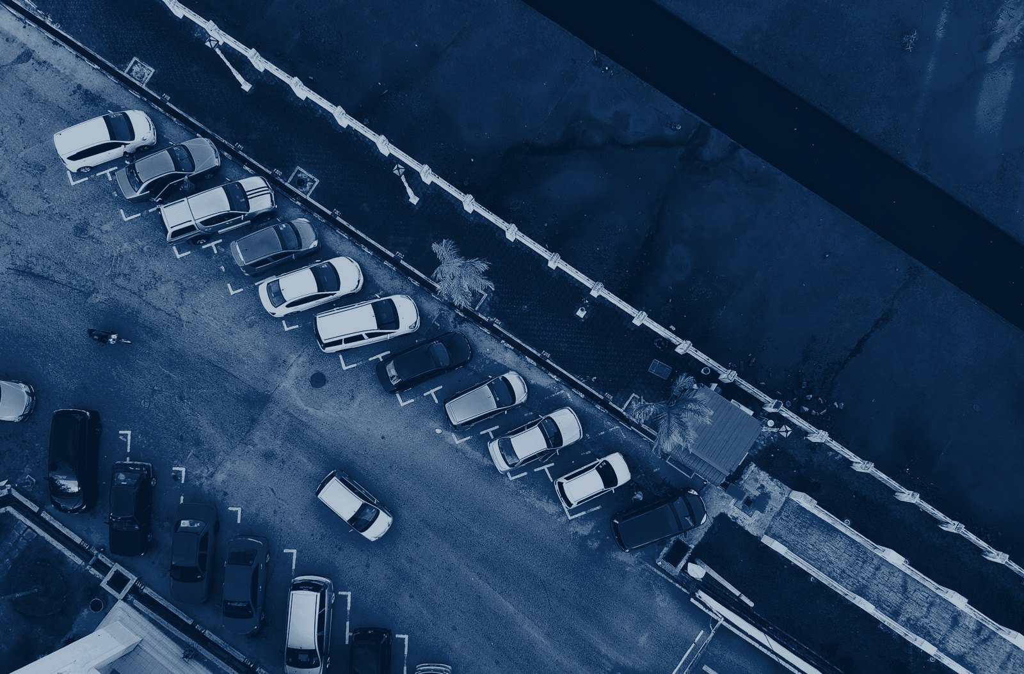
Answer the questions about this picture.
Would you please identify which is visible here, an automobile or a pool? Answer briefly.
automobile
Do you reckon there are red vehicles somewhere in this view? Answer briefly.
No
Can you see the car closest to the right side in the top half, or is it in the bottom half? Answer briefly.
bottom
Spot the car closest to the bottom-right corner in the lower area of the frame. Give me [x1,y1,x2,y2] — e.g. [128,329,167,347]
[610,490,708,554]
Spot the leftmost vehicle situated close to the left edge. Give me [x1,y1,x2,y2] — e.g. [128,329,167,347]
[0,380,38,421]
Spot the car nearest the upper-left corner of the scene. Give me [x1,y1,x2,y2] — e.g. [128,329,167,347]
[50,111,159,177]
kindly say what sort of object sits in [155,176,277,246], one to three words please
truck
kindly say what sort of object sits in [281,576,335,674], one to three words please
car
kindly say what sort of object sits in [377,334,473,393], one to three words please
car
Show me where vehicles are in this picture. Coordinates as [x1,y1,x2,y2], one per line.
[43,412,106,513]
[556,455,631,510]
[319,470,392,538]
[50,111,159,177]
[230,218,320,277]
[348,627,393,674]
[489,408,585,474]
[79,327,133,346]
[214,536,271,633]
[281,576,335,674]
[162,504,220,603]
[445,373,529,432]
[313,295,421,356]
[0,380,38,421]
[258,260,365,321]
[155,176,277,246]
[610,490,708,554]
[377,334,473,393]
[115,139,222,203]
[101,464,158,554]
